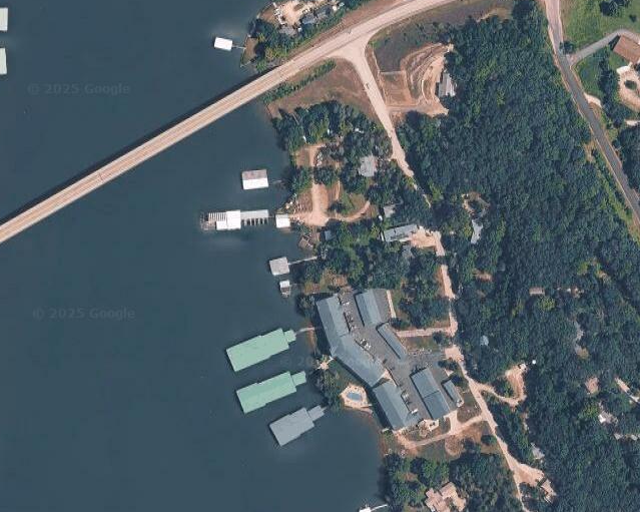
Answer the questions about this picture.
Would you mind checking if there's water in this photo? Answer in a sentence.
Yes, there's water in this view.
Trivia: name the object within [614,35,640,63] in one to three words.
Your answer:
house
